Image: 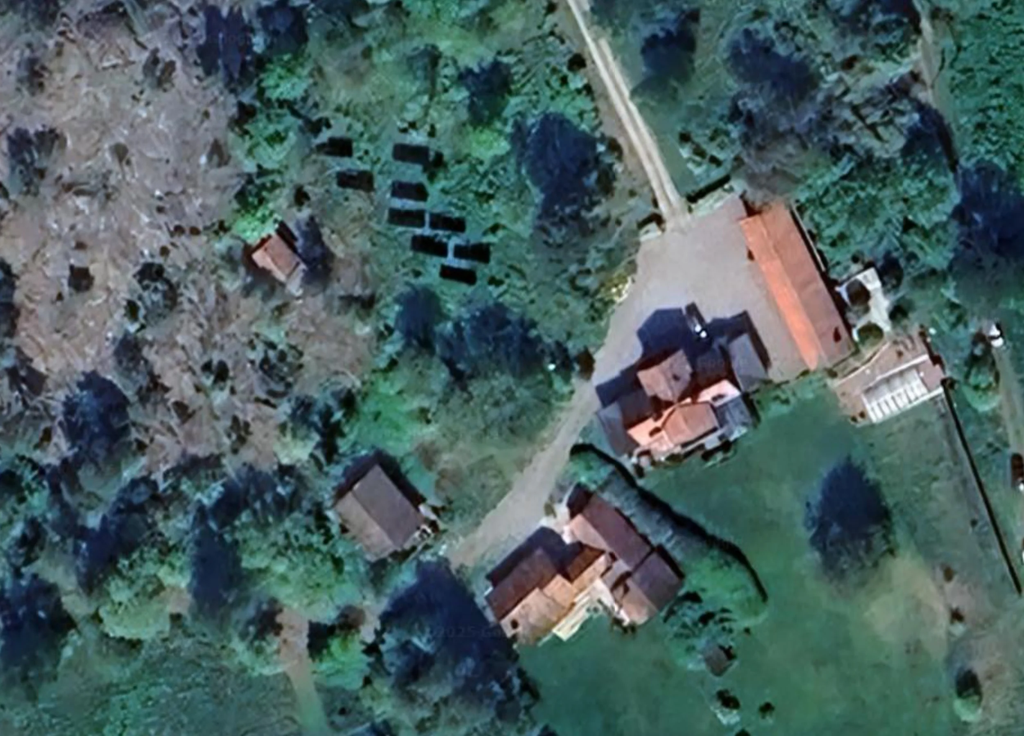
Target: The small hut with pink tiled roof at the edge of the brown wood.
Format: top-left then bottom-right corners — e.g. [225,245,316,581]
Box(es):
[252,234,301,282]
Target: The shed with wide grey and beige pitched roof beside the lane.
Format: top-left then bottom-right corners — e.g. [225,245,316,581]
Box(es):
[333,464,424,563]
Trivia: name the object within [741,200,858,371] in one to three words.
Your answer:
barn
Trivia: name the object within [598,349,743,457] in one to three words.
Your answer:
house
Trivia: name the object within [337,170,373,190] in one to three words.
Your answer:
solar array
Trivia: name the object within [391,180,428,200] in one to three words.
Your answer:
solar array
